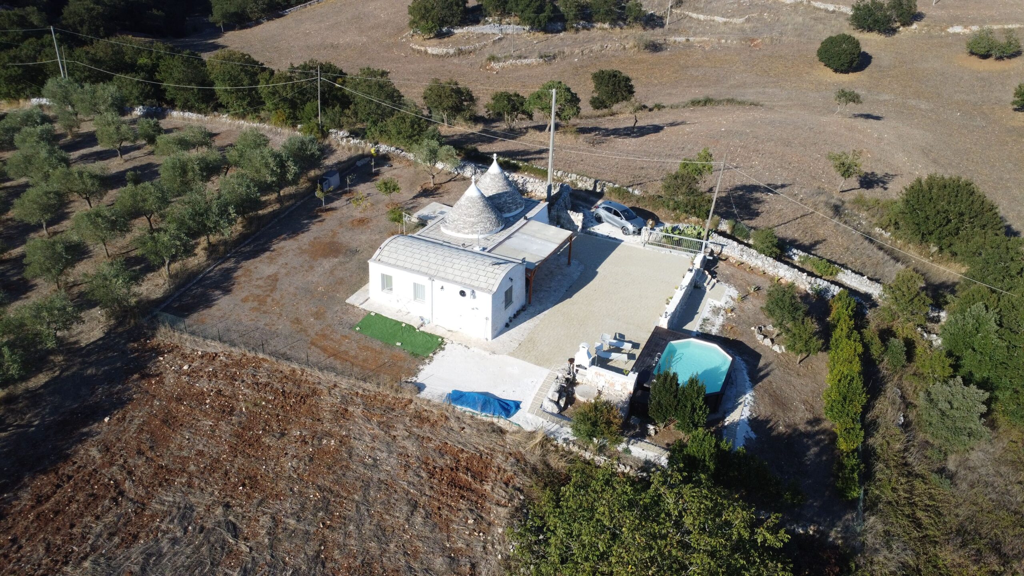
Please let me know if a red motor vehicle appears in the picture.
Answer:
No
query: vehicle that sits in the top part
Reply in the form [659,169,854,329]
[593,200,646,235]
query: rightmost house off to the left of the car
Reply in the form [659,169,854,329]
[367,153,546,339]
